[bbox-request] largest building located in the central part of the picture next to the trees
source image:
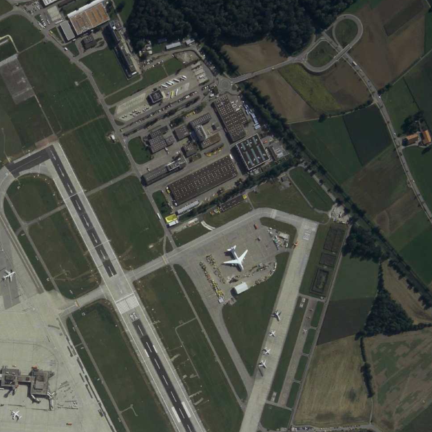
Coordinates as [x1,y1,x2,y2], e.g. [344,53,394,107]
[168,155,238,204]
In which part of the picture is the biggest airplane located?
center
